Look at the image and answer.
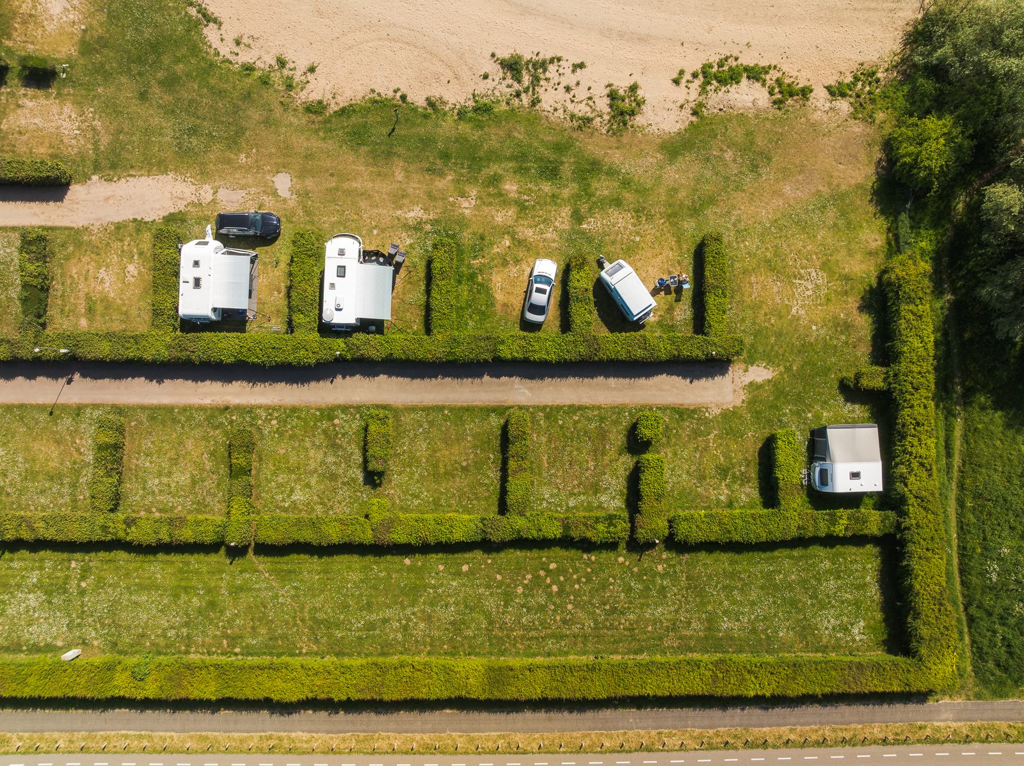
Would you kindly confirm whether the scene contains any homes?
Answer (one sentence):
No, the scene contains no home.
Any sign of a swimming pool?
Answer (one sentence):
No, I can't see a single swimming pool in this photo.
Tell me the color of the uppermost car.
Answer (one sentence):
From above, the uppermost car appears black.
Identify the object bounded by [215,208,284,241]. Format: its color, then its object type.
black car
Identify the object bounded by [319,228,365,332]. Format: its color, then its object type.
white camper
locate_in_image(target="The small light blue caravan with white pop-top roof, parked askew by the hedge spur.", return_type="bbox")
[598,256,656,325]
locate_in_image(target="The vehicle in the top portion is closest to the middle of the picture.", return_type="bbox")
[523,258,558,325]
